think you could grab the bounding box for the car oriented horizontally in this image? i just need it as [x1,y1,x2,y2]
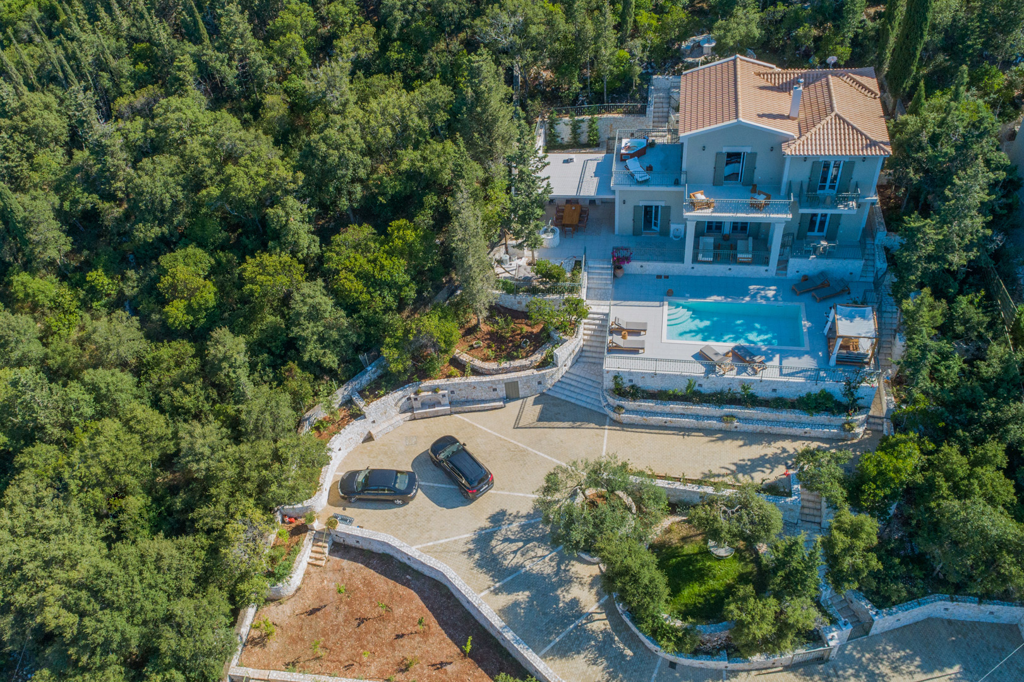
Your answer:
[336,465,421,506]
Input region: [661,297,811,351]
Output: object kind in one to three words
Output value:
swimming pool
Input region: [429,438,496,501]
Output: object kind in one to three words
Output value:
car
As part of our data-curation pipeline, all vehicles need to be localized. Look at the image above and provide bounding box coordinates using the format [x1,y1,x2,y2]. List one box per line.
[336,465,421,506]
[429,438,496,501]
